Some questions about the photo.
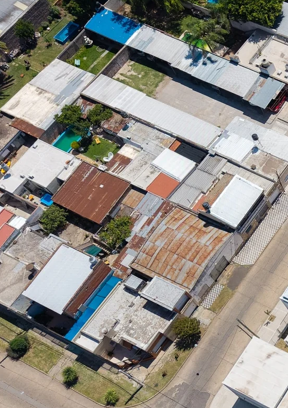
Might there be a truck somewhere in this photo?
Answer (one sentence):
No, I find no truck anywhere in the image.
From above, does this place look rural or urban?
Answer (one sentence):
This place is urban.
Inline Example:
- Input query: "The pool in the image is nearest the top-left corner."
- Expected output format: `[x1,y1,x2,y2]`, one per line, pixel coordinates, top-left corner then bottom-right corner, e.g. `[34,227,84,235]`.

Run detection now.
[54,21,82,47]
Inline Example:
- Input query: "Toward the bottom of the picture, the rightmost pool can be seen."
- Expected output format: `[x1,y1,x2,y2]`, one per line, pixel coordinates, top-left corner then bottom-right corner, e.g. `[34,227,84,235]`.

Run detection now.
[82,244,104,257]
